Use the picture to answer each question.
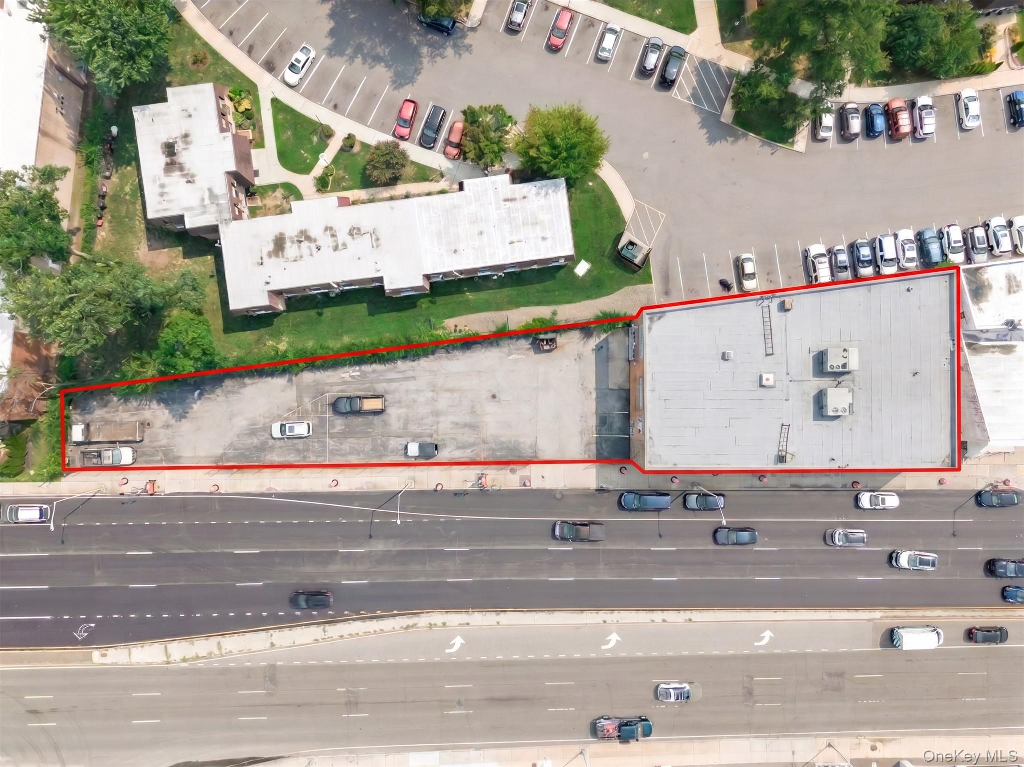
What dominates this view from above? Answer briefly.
paved ground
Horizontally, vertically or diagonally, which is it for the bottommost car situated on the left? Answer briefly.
horizontally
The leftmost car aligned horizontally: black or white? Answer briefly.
white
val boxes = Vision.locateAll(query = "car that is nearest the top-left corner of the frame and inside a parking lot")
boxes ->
[285,41,318,88]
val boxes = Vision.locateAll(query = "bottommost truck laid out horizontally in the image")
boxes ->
[593,715,653,741]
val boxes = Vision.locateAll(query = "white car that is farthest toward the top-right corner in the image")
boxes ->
[955,88,981,132]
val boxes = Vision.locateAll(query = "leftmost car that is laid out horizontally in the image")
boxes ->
[7,503,53,525]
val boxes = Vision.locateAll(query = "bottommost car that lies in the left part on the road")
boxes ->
[290,588,335,611]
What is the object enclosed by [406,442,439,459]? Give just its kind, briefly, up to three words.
vehicle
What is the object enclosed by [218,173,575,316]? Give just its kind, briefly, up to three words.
building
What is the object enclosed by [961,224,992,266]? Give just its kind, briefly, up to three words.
car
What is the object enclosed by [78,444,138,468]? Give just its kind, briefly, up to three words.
truck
